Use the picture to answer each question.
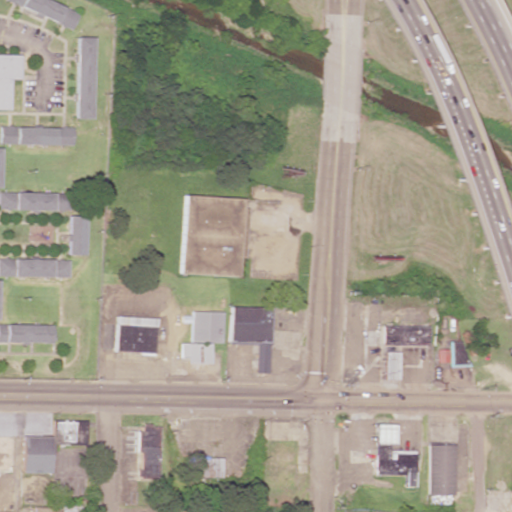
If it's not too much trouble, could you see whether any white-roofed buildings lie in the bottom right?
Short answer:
Yes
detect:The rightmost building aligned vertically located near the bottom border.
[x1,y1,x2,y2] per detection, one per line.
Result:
[428,444,458,506]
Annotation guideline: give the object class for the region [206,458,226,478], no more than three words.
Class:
shed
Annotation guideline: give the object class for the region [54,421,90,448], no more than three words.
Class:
house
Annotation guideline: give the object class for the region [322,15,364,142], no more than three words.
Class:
bridge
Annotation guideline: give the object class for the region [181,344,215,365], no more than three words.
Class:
building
